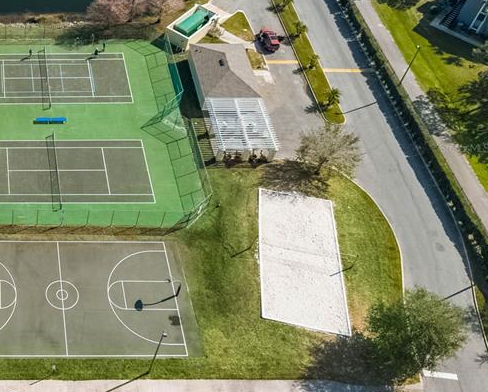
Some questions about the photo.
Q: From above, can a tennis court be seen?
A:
Yes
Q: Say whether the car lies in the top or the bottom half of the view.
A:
top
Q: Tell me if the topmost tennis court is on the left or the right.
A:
left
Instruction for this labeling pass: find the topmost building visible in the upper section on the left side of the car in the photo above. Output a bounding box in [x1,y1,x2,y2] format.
[186,44,263,112]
